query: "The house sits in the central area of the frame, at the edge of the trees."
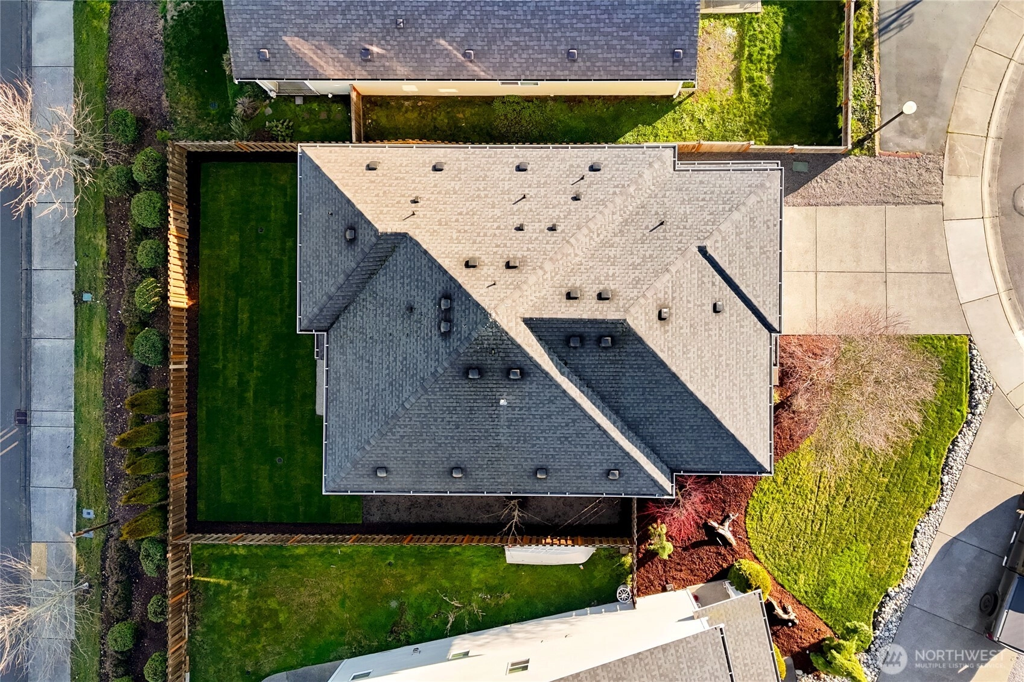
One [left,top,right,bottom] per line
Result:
[297,145,783,497]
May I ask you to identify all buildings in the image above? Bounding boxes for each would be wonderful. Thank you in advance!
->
[297,145,783,497]
[262,580,794,682]
[219,0,703,103]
